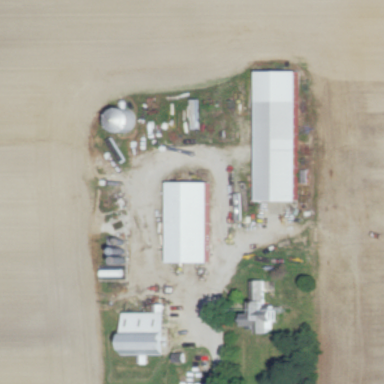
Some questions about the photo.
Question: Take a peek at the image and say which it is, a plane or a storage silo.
storage silo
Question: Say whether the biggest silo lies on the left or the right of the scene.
left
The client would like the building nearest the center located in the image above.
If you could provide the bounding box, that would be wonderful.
[162,182,209,264]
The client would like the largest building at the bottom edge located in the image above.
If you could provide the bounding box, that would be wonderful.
[113,304,168,366]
